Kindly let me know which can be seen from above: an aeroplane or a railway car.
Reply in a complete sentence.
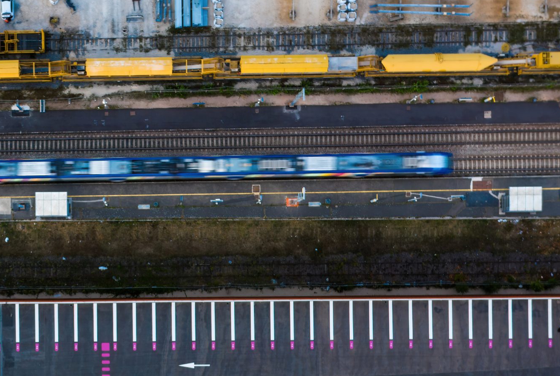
It is a railway car that can be seen here.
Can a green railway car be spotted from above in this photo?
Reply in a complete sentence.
No, the picture doesn't show any green railway car.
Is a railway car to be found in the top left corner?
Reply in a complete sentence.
Yes, a railway car can be seen in the top left corner.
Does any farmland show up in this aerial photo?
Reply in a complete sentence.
No, there is no farmland in the image.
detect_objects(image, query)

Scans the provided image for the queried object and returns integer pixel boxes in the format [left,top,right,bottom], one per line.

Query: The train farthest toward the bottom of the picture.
[0,150,453,181]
